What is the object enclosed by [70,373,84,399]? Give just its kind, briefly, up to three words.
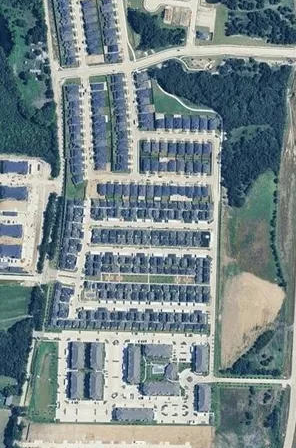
building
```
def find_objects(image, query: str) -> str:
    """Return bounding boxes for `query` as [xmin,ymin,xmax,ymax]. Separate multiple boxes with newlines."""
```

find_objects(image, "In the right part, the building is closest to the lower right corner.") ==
[195,385,212,412]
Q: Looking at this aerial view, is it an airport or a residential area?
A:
residential area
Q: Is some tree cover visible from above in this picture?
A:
Yes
